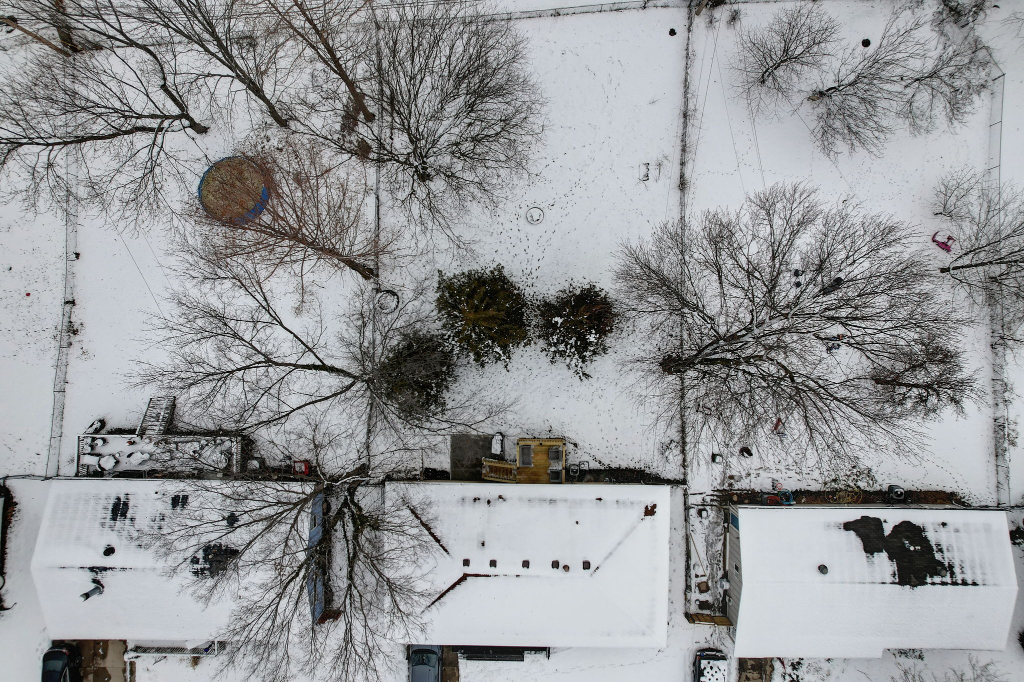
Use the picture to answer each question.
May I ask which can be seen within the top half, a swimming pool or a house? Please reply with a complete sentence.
The feature located within the top half is a swimming pool.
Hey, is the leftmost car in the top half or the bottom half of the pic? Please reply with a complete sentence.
Seen from above, the leftmost car lies in the bottom half of the view.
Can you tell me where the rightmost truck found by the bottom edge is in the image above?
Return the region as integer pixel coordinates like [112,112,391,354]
[692,647,728,682]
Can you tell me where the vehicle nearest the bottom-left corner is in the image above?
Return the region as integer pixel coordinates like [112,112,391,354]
[43,648,84,682]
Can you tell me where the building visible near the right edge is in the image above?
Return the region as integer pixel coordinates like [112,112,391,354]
[724,491,1018,658]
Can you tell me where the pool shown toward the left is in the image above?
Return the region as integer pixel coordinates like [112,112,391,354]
[198,155,276,228]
